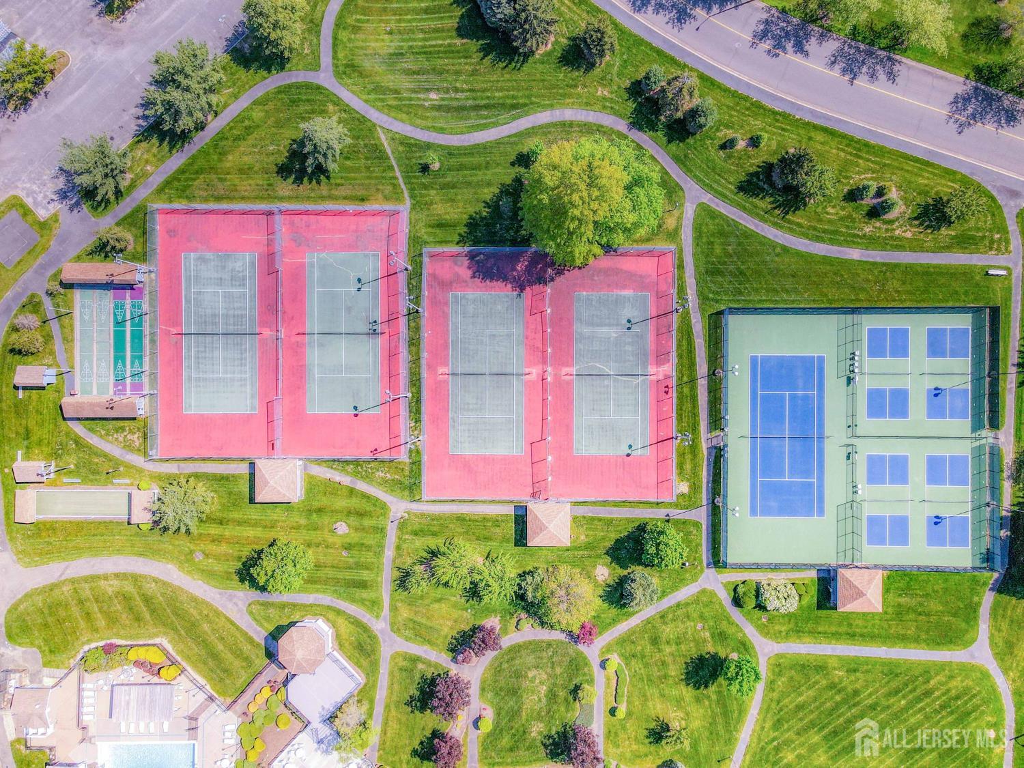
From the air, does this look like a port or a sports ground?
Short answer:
sports ground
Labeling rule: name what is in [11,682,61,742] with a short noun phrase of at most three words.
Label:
building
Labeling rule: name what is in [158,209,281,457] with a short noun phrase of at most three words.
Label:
tennis court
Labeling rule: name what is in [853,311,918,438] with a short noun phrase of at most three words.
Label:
sports court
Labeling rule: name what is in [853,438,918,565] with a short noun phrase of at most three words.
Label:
sports court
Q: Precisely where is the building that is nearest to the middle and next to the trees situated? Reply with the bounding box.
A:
[527,502,570,547]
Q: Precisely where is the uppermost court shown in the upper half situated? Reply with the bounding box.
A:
[0,209,40,269]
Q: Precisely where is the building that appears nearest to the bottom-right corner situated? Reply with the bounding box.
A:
[830,569,883,612]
